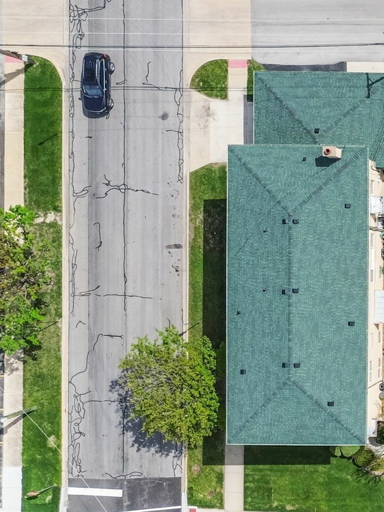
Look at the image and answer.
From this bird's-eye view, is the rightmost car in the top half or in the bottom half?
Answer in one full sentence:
The rightmost car sits in the top half of the picture.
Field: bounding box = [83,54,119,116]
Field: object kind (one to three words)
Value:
car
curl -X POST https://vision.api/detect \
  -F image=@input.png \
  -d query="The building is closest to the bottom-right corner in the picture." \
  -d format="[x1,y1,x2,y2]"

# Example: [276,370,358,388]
[225,144,384,447]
